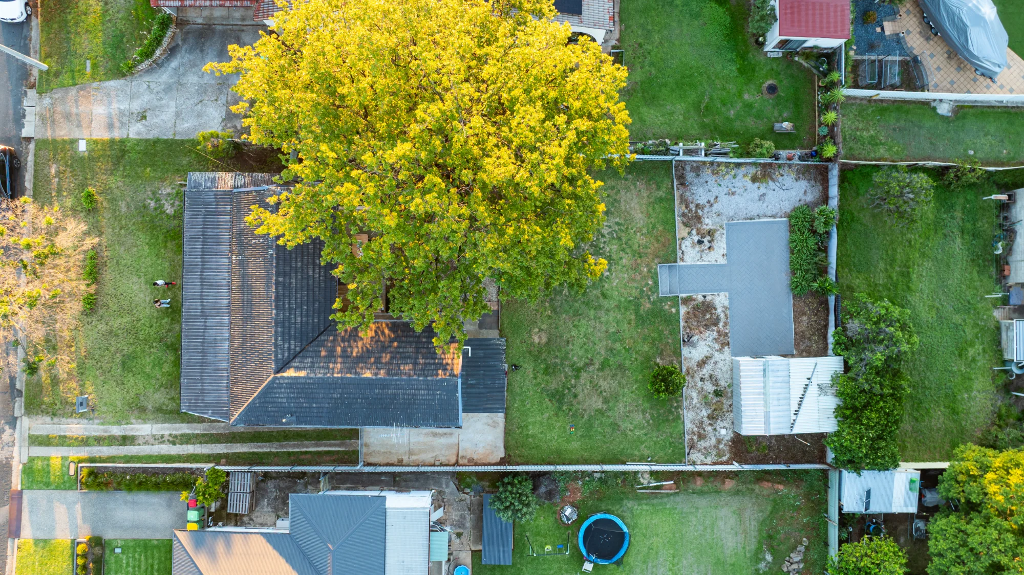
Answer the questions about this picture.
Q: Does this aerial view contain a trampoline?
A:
Yes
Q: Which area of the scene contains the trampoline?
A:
bottom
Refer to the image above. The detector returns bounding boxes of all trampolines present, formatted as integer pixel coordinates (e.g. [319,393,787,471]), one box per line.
[577,510,631,569]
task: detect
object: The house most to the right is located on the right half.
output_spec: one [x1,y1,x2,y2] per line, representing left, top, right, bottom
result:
[993,309,1024,362]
